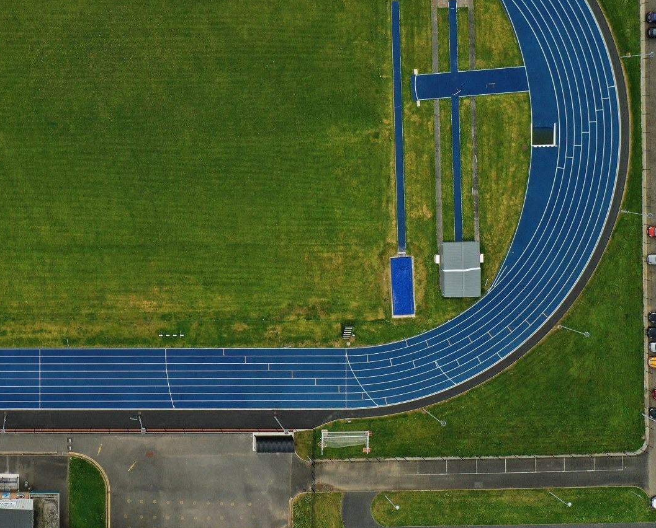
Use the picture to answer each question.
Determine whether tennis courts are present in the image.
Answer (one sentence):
No, the frame has no tennis court in it.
